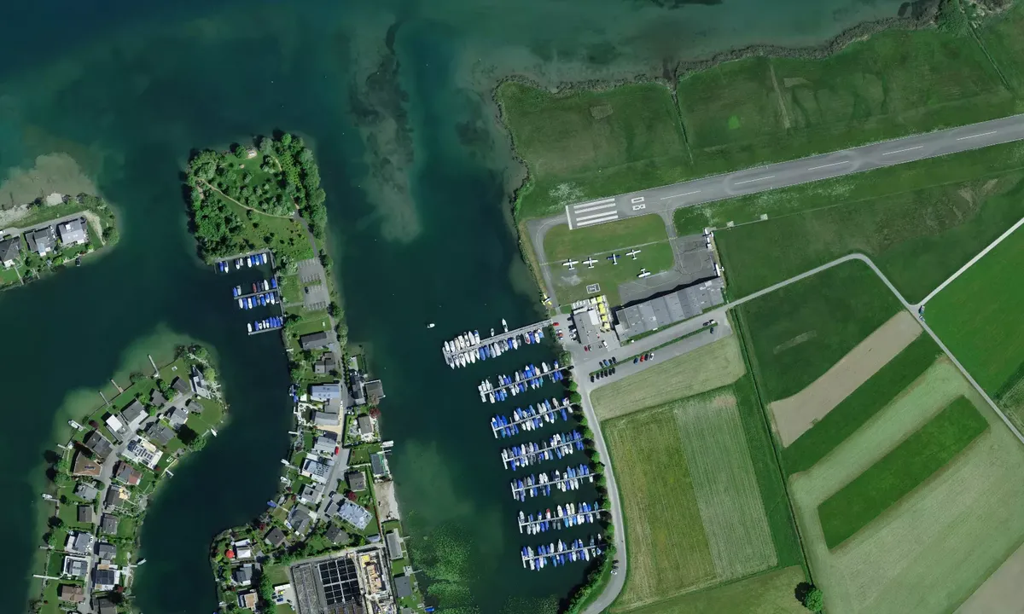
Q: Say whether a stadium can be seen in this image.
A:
No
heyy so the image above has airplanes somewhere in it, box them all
[626,249,641,261]
[638,267,651,277]
[715,263,725,277]
[563,259,578,271]
[583,257,598,269]
[607,253,621,265]
[541,295,552,305]
[704,228,714,240]
[707,239,716,251]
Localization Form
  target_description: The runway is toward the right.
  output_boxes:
[566,114,1024,229]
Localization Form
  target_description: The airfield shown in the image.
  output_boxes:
[526,114,1024,314]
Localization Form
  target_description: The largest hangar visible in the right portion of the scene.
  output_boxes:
[616,278,728,338]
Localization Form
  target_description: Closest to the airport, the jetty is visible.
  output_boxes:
[448,319,551,357]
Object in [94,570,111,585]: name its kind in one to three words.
solar panel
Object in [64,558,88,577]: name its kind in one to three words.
house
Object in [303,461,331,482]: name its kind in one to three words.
house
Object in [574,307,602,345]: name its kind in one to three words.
building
